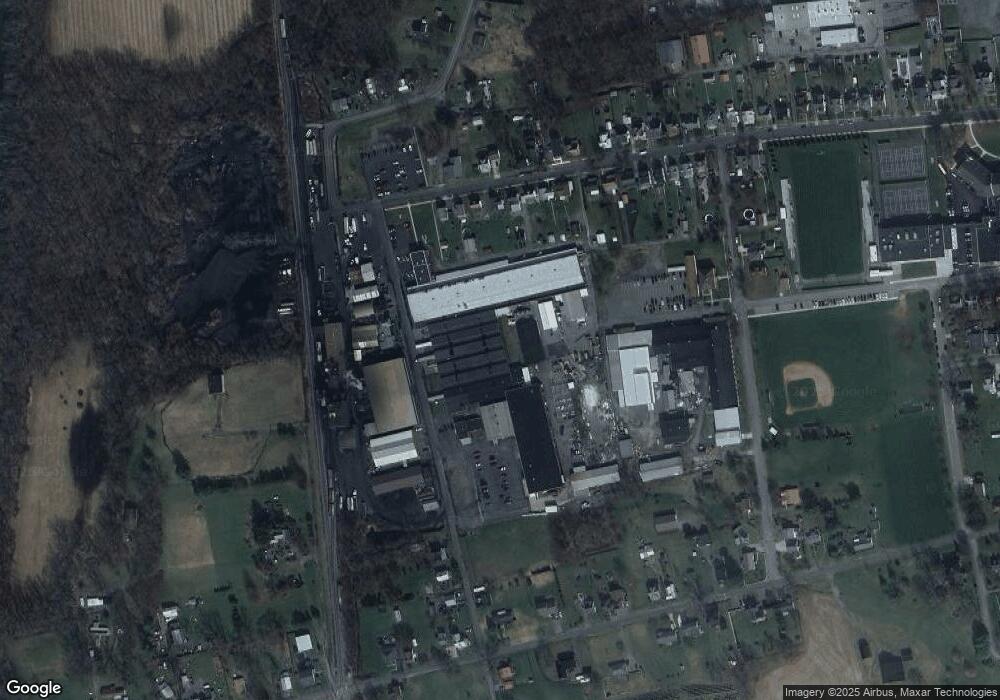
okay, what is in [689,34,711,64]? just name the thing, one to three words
building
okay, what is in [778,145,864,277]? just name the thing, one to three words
sports field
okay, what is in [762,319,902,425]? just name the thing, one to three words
baseball field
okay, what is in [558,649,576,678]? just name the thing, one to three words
house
